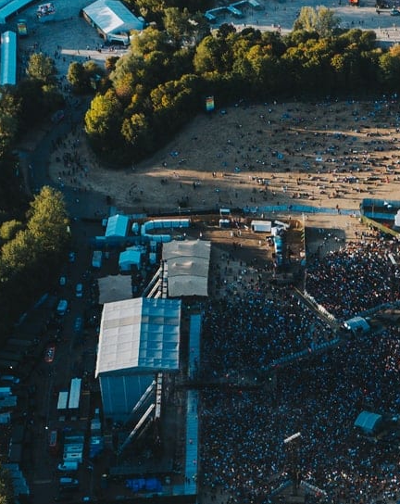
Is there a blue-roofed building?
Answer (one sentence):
Yes, the frame does contain a blue-roofed building.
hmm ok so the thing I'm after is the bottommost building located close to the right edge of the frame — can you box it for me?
[354,414,380,437]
